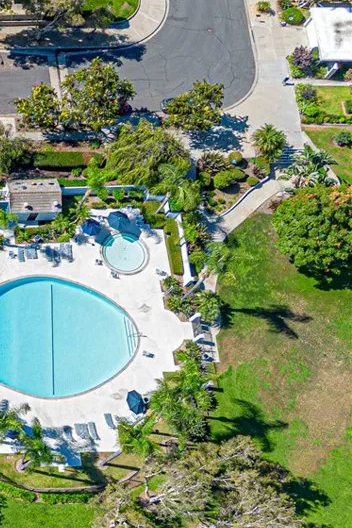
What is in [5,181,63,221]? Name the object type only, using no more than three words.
building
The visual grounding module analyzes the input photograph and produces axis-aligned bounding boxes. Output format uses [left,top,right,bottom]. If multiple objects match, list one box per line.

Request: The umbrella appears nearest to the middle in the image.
[106,212,129,232]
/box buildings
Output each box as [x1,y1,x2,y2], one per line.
[5,181,63,221]
[298,7,352,79]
